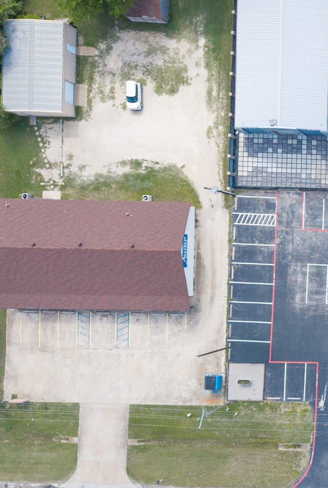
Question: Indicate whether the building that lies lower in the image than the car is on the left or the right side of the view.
left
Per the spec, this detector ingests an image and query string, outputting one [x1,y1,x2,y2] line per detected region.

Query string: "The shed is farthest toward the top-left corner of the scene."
[1,18,76,116]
